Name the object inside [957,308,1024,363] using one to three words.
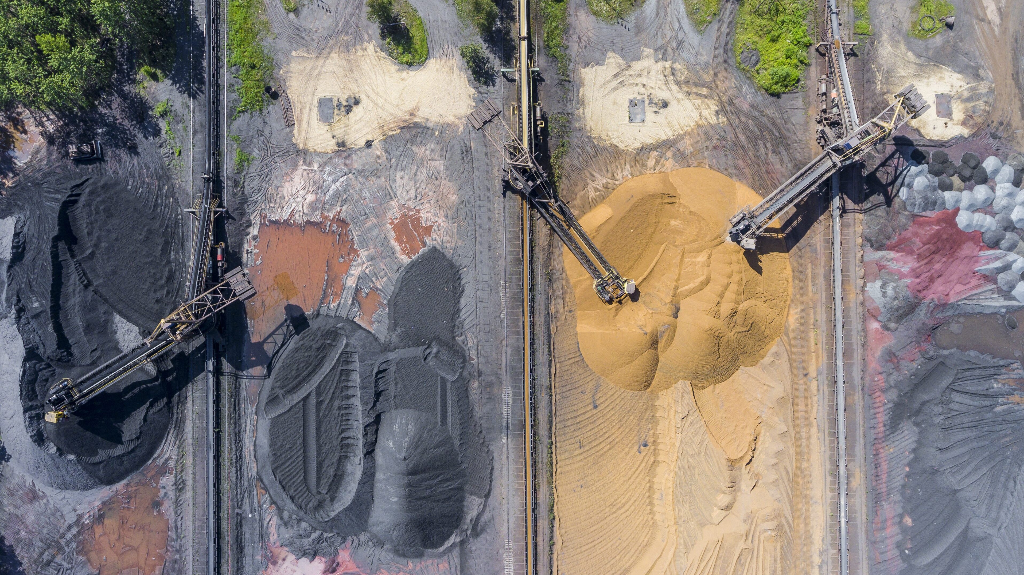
pond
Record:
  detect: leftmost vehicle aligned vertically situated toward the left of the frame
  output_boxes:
[179,170,228,310]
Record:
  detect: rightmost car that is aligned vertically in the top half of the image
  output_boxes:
[810,25,863,159]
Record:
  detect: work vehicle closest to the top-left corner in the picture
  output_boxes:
[69,144,103,164]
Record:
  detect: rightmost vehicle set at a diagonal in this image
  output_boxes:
[735,78,934,251]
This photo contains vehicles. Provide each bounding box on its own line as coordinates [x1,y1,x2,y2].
[69,144,103,164]
[465,97,637,303]
[43,264,258,424]
[179,170,228,310]
[810,25,863,159]
[735,78,934,251]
